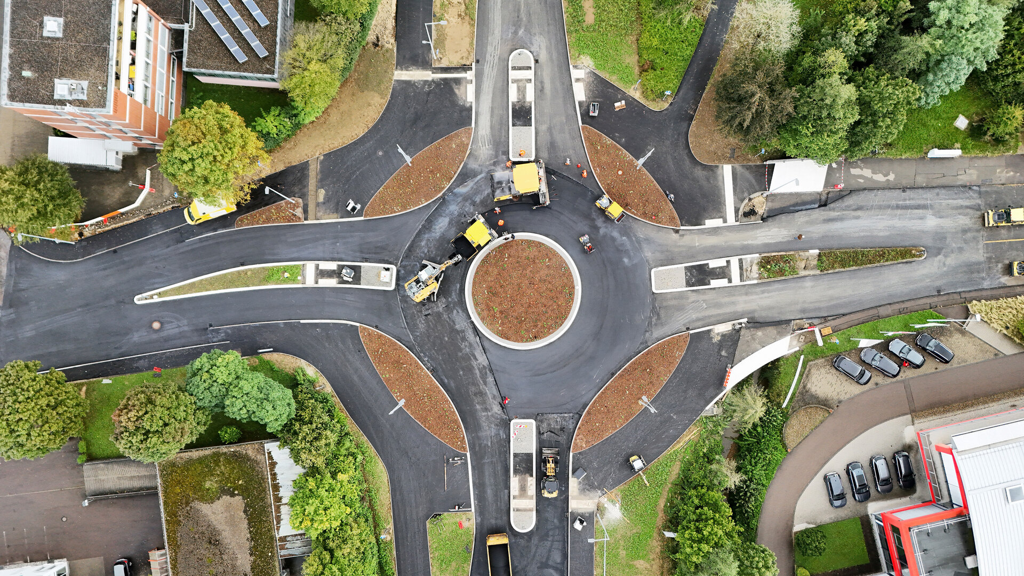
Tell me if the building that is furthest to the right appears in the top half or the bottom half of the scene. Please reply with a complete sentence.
It is in the bottom half that the building that is furthest to the right appears.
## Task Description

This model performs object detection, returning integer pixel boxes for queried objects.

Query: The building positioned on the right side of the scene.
[864,407,1024,576]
